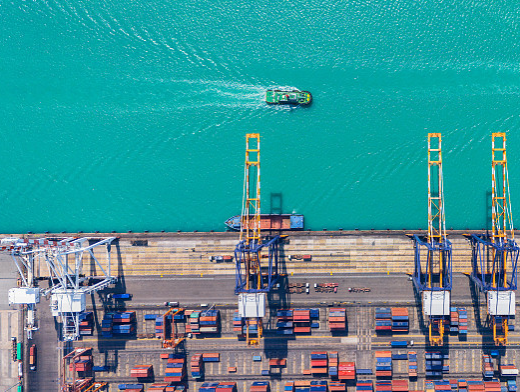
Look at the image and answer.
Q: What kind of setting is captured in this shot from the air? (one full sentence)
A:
This image shows a port.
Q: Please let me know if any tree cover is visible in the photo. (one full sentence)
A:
No, the scene doesn't show any tree cover.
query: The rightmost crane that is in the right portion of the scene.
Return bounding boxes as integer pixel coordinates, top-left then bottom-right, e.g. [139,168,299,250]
[463,133,520,346]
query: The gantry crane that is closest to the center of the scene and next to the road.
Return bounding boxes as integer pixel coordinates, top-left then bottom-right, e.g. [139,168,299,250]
[230,134,290,347]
